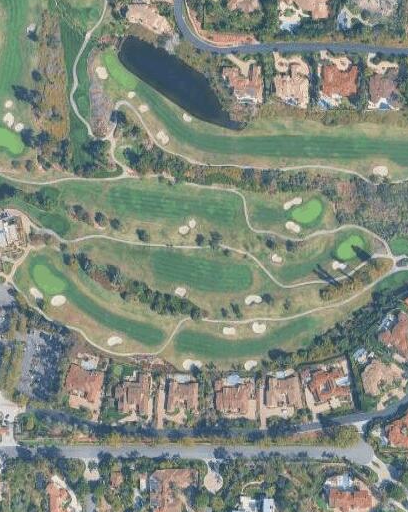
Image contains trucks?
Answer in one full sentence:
No, the photo shows no truck.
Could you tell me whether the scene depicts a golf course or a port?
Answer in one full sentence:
This looks like a golf course.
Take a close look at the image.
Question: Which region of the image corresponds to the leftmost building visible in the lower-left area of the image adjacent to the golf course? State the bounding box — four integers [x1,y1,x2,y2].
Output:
[64,365,102,410]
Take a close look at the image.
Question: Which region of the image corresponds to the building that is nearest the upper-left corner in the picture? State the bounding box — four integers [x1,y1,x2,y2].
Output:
[125,0,174,36]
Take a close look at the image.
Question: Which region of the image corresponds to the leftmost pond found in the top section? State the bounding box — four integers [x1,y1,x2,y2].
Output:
[119,35,241,128]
